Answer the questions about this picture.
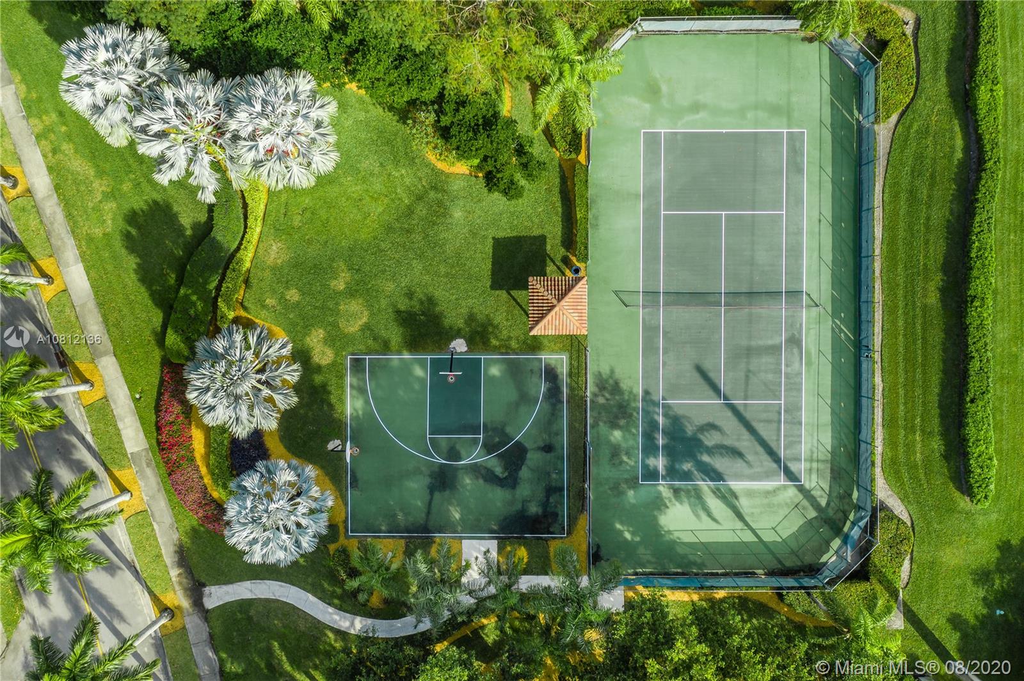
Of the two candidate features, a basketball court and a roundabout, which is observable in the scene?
basketball court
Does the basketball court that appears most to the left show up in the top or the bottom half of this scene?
bottom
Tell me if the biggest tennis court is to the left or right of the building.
to the right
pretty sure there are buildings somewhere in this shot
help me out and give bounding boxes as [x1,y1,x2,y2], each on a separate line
[527,275,588,336]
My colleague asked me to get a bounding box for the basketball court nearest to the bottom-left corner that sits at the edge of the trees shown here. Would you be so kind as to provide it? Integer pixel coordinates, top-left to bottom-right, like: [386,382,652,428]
[346,352,569,539]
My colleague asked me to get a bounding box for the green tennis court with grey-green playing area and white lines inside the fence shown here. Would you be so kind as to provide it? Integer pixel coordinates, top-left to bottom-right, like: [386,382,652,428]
[587,33,862,578]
